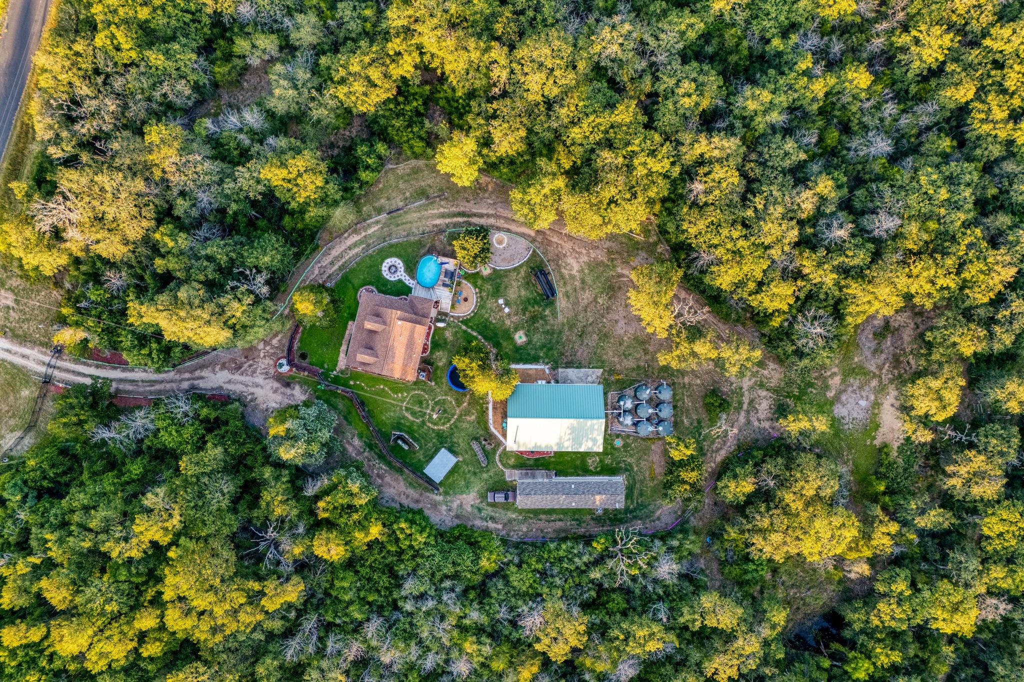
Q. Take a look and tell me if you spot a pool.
Yes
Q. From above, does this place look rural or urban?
rural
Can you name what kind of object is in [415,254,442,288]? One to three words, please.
swimming pool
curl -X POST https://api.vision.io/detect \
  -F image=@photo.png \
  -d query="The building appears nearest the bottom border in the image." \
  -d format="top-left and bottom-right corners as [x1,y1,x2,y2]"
[518,480,627,509]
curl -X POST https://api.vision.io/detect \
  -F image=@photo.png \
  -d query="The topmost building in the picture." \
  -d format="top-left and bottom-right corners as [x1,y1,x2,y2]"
[345,292,433,381]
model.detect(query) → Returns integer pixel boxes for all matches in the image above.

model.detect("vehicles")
[488,491,516,503]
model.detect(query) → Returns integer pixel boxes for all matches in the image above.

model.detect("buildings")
[518,480,627,509]
[506,383,605,452]
[345,292,433,381]
[424,447,458,482]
